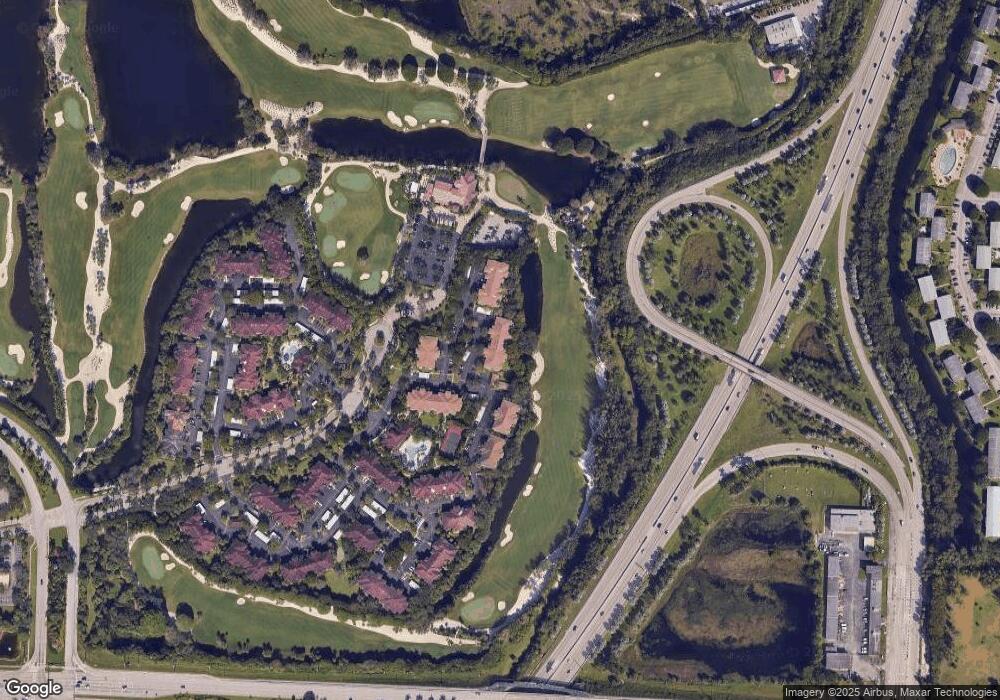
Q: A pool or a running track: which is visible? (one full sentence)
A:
This aerial view contains a pool.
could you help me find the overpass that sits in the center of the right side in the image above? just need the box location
[681,328,913,504]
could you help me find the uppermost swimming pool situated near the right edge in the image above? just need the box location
[930,129,972,187]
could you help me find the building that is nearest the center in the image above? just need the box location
[482,316,514,373]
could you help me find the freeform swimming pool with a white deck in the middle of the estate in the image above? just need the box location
[399,433,434,473]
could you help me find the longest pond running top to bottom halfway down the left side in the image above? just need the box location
[10,201,58,430]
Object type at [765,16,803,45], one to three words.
building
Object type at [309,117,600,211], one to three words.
pond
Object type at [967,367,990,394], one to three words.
building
